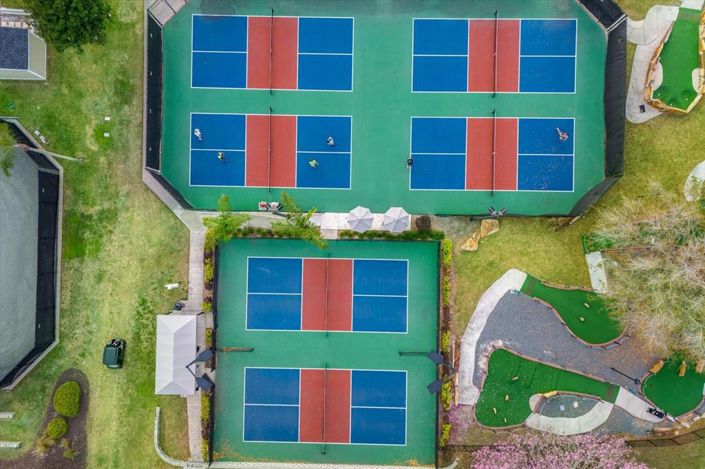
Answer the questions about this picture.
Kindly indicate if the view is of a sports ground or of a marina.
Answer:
sports ground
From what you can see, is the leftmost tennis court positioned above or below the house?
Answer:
below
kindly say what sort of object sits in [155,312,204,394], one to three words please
gazebo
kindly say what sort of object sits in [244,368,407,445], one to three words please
sports court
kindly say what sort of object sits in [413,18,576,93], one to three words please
sports court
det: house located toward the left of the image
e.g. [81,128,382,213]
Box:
[0,3,48,80]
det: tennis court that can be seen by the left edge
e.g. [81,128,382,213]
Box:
[0,121,56,375]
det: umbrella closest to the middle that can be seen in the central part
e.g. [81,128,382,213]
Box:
[346,205,375,234]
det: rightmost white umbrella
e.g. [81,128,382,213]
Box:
[382,205,410,233]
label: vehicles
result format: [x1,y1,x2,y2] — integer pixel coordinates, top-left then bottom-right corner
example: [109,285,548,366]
[647,406,669,421]
[103,335,127,368]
